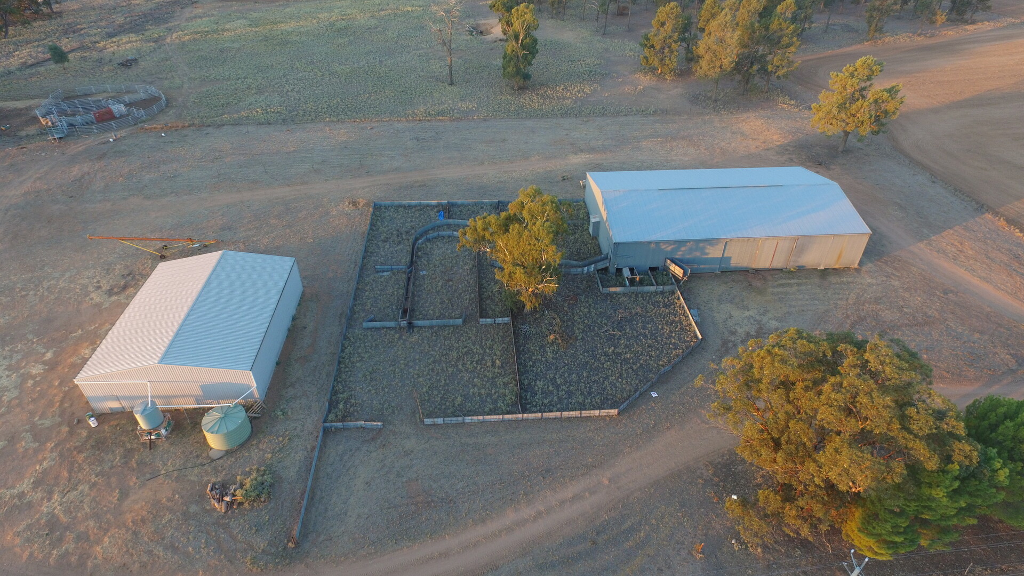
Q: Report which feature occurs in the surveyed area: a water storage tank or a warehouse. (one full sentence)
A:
Of the two, only a water storage tank appears.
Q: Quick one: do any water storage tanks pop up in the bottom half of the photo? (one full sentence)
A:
Yes, the scene does show a water storage tank in the bottom half of the photo.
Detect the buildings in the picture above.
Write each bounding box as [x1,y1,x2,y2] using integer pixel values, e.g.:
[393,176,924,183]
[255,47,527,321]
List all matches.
[575,165,874,275]
[72,250,303,414]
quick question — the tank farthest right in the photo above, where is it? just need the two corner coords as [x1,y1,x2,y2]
[202,402,252,450]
